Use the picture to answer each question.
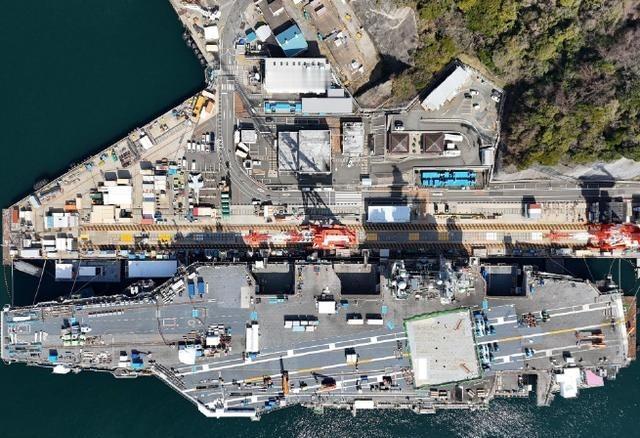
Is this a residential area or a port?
port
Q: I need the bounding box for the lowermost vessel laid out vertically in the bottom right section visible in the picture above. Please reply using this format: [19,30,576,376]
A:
[623,296,637,360]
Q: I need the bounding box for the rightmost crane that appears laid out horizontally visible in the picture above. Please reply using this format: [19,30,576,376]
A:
[528,227,640,250]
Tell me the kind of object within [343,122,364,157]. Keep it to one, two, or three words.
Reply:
building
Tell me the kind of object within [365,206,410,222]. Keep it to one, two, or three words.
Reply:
shed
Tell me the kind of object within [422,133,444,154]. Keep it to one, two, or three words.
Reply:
building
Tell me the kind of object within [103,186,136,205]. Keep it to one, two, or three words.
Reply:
shed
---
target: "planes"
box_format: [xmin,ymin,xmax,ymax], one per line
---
[188,172,203,206]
